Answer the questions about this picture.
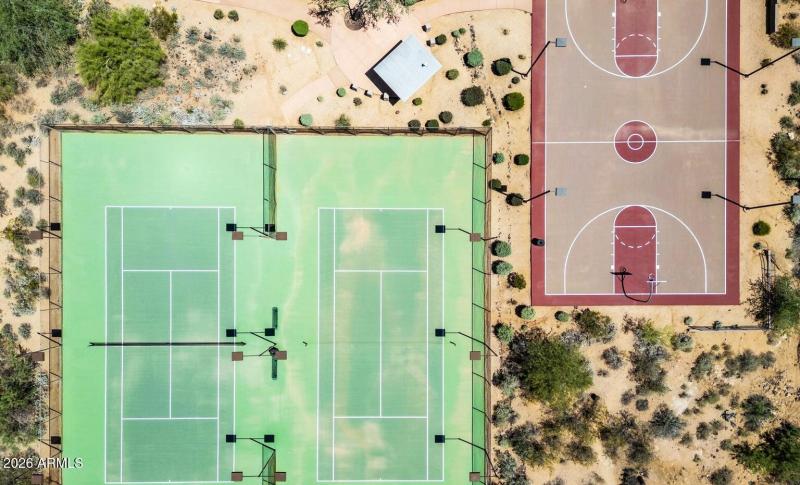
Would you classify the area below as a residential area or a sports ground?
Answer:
sports ground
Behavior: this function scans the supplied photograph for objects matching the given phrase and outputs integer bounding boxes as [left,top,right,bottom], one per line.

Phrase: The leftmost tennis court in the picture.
[62,134,276,485]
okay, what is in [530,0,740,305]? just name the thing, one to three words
basketball court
